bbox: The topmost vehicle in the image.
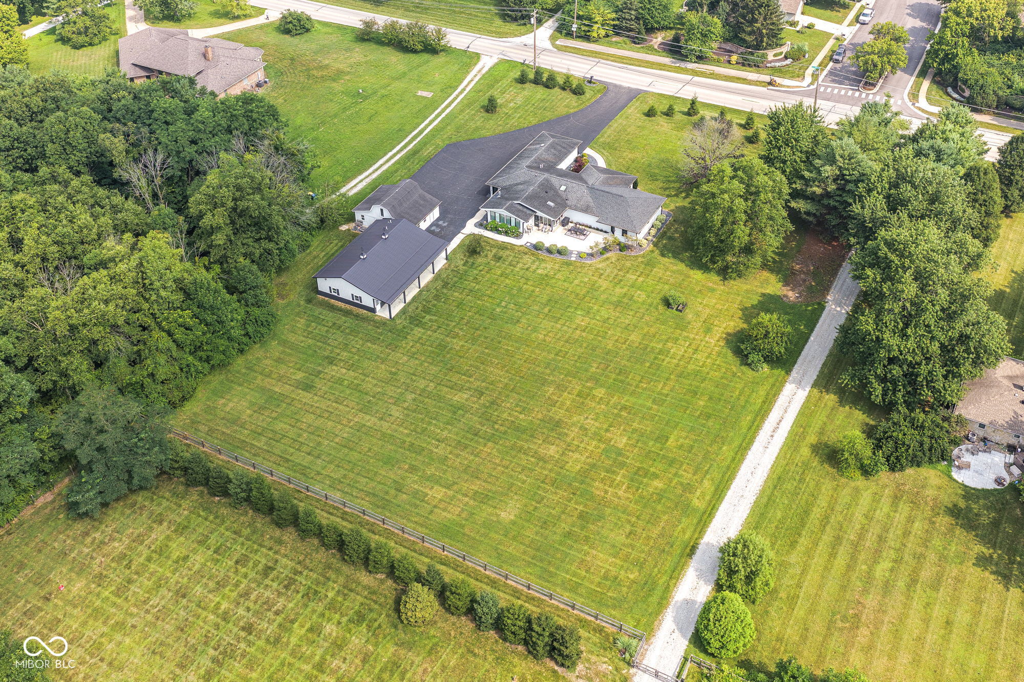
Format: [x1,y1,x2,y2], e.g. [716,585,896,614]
[860,7,875,21]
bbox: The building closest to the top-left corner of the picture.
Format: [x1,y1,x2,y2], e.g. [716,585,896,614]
[119,27,267,96]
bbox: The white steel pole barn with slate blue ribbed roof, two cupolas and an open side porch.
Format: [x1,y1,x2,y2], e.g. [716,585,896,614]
[311,217,453,318]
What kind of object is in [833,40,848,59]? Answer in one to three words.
car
